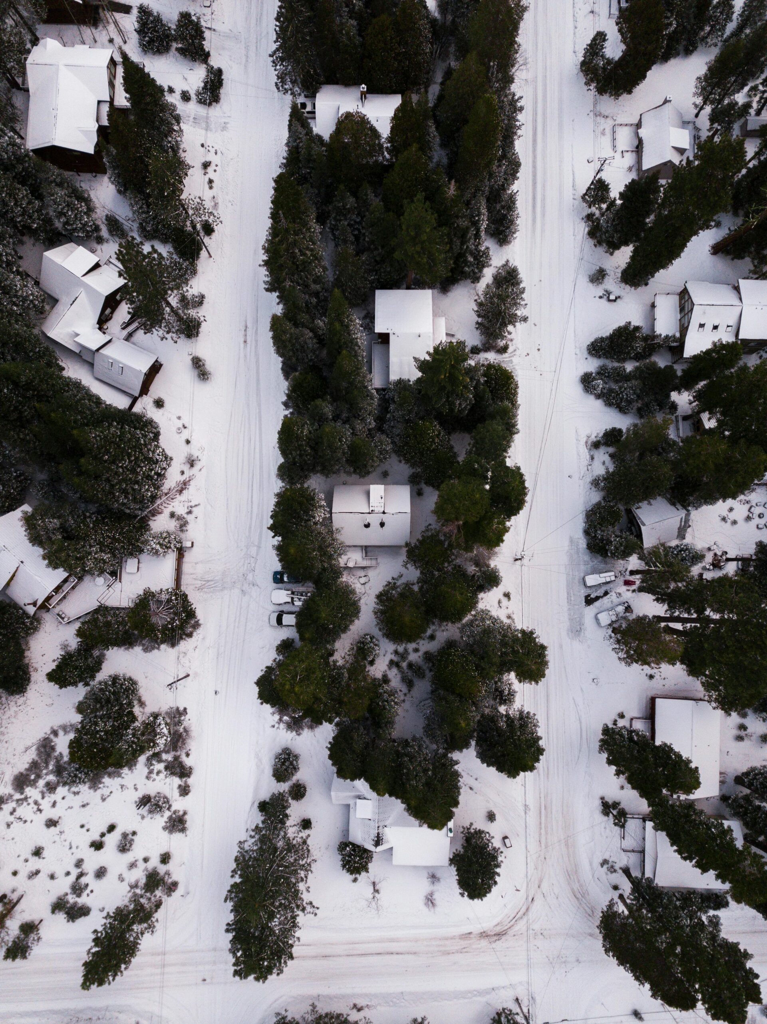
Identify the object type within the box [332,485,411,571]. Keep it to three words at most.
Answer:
house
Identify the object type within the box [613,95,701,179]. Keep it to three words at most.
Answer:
house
